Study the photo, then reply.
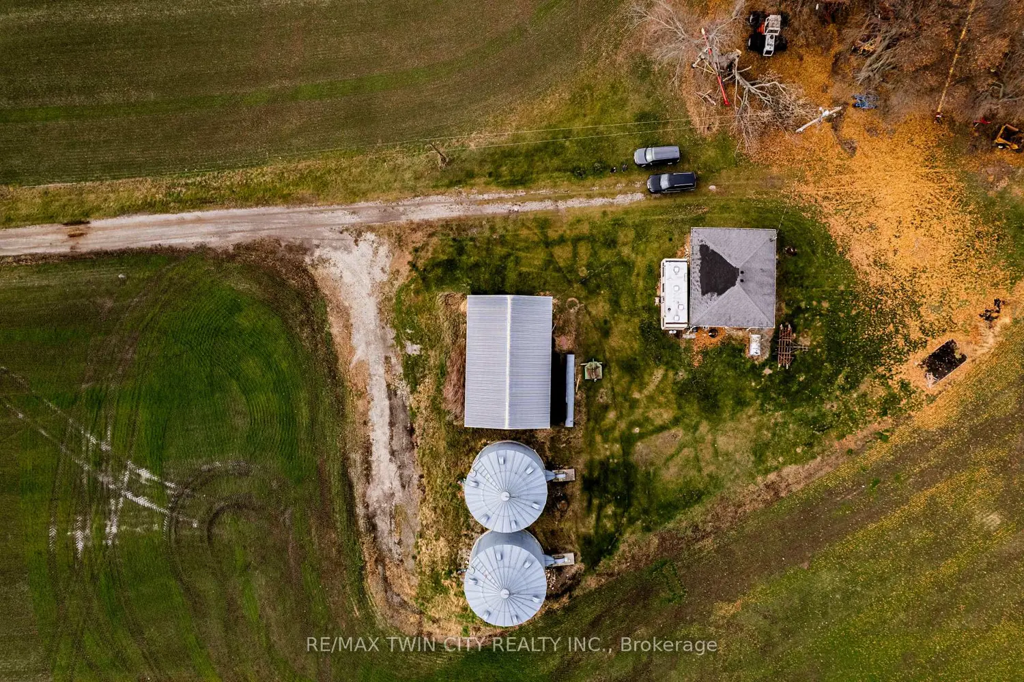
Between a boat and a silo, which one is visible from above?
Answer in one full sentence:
Of the two, only a silo appears.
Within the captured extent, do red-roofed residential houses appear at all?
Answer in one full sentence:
No, the photo shows no red-roofed residential house.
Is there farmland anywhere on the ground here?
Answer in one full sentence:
Yes, the picture does contain farmland.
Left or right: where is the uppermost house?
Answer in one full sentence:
The uppermost house is on the right side of the image.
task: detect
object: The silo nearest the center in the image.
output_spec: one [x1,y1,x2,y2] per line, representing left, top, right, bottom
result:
[461,439,577,533]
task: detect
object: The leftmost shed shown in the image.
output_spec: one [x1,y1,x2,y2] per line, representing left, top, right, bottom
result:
[464,295,553,430]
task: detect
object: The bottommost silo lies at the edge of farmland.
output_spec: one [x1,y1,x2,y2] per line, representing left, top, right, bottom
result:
[461,528,576,627]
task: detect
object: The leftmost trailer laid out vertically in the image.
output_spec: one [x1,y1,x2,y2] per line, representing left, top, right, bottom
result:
[650,260,688,340]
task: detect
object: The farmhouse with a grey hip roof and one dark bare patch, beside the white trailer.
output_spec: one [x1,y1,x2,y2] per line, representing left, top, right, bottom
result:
[682,226,783,337]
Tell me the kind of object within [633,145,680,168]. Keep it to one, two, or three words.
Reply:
car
